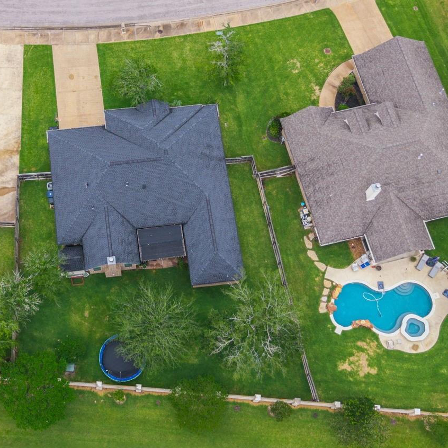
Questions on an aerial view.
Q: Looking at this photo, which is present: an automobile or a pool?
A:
pool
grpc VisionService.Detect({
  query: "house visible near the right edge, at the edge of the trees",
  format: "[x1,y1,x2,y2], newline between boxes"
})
[281,37,448,268]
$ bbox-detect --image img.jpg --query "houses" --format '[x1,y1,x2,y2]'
[281,37,448,268]
[47,100,245,289]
